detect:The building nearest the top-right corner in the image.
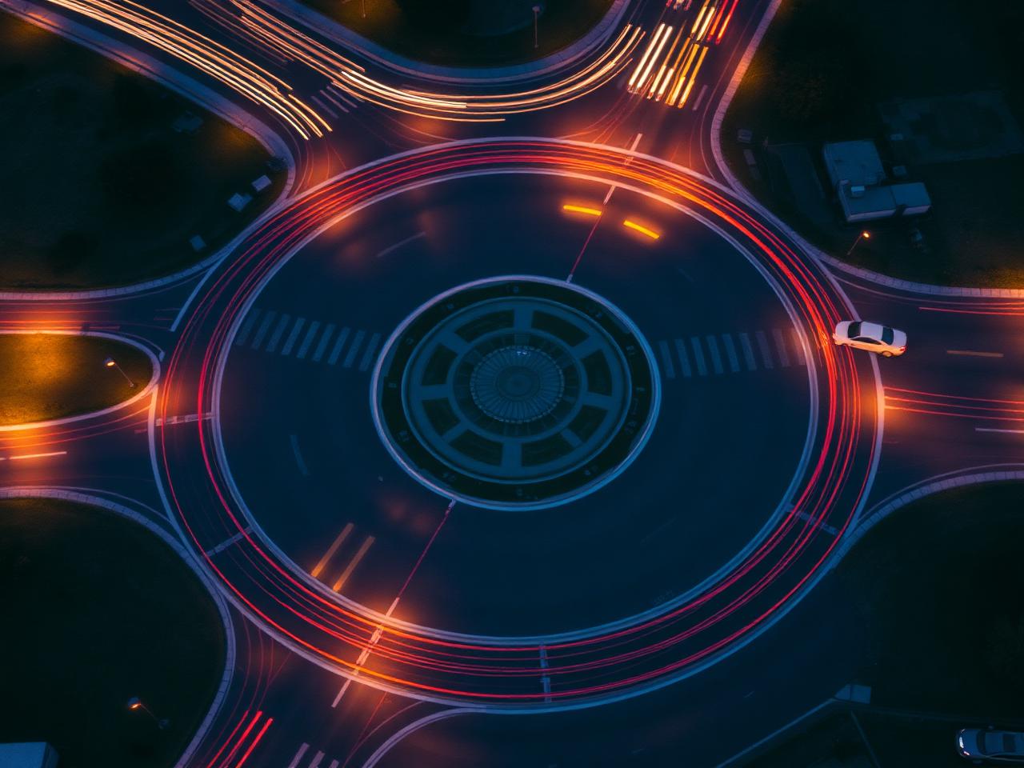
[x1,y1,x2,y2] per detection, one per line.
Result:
[821,140,930,227]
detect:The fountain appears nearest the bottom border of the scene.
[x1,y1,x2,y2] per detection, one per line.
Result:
[471,339,568,421]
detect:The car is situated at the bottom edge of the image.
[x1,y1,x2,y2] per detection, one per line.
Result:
[956,722,1024,767]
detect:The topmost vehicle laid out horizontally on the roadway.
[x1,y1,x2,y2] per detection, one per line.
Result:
[835,317,908,355]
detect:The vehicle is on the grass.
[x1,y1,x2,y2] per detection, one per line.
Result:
[898,212,942,255]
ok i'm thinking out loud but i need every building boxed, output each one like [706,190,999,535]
[821,140,930,227]
[0,741,75,768]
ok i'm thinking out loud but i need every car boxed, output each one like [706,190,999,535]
[835,317,908,355]
[956,722,1024,767]
[898,212,942,255]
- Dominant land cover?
paved ground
